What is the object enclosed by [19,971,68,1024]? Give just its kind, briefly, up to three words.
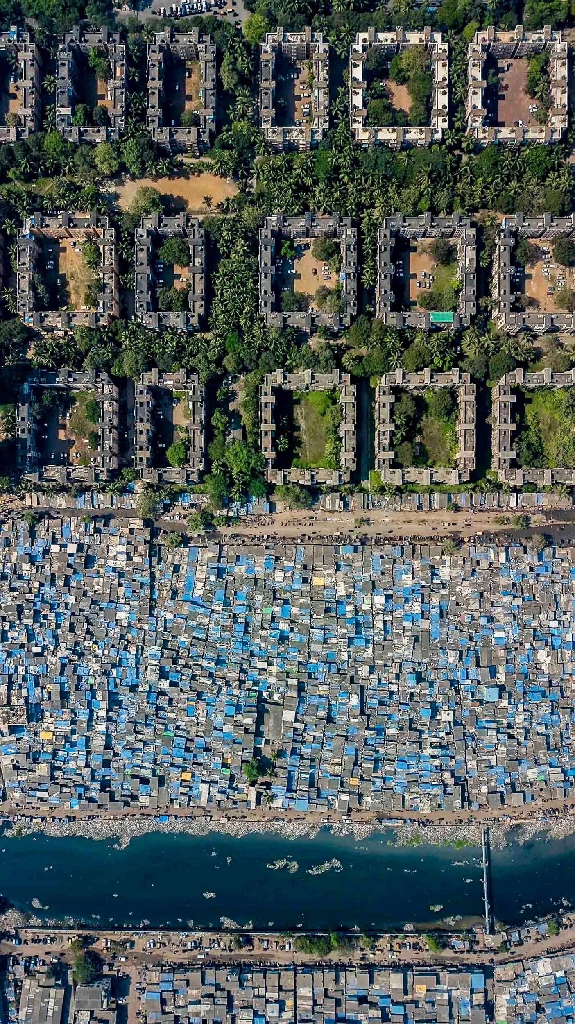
shed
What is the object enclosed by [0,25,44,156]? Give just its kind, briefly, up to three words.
building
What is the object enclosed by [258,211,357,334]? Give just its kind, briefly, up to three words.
building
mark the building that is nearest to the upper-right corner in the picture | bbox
[462,25,566,154]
